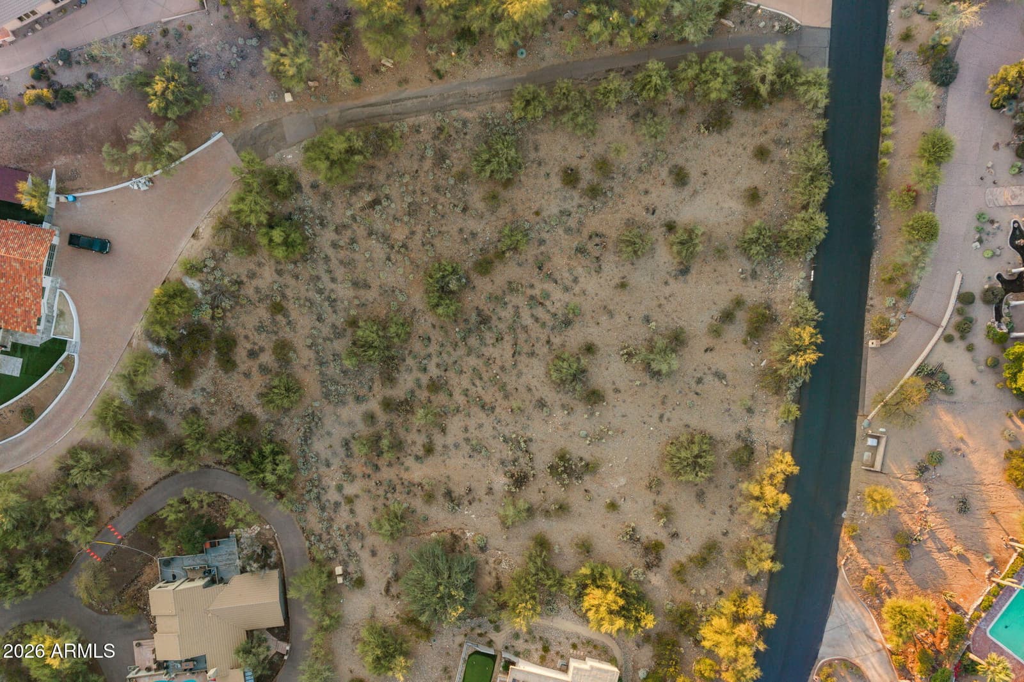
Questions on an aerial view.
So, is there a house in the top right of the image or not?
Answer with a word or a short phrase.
No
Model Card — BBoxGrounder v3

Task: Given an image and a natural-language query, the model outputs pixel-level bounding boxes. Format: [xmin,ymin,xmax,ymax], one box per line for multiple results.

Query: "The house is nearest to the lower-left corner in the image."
[149,567,288,682]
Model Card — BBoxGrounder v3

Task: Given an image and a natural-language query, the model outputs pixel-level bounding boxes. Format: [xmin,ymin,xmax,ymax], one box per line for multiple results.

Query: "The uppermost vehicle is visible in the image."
[68,234,112,253]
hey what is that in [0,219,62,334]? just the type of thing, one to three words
house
